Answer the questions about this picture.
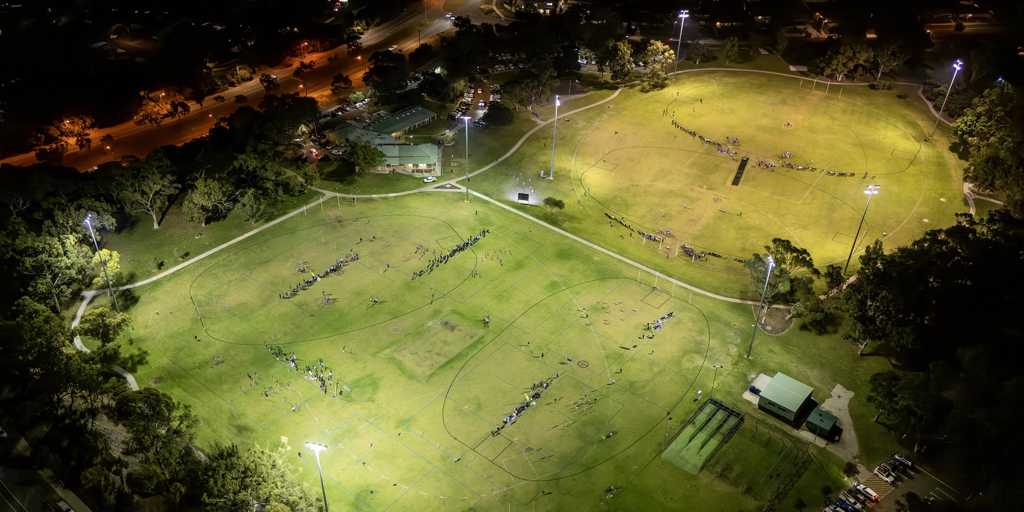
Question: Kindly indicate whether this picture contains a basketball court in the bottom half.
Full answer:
No, the scene shows no basketball court in the bottom half.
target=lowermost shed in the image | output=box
[805,407,838,438]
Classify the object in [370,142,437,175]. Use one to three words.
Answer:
building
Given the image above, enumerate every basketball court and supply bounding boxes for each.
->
[535,80,595,107]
